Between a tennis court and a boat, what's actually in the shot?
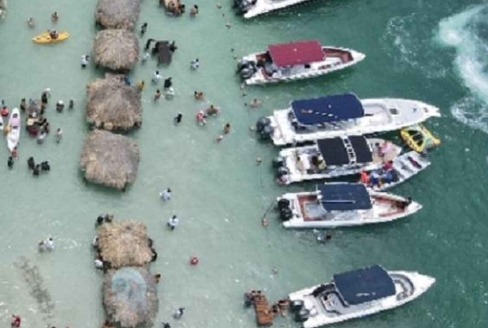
boat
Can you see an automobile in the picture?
No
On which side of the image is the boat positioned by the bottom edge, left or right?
right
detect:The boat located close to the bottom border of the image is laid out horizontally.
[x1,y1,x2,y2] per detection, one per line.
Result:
[284,267,437,328]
